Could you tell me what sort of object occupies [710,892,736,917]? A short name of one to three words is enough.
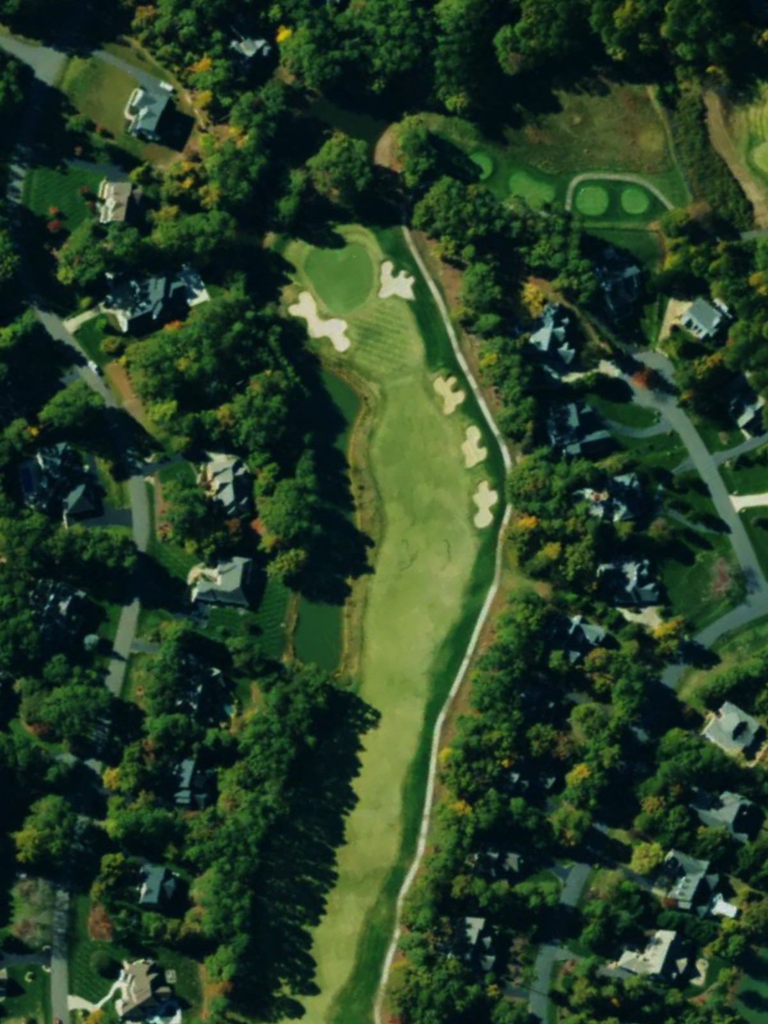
building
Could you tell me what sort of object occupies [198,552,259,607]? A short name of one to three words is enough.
house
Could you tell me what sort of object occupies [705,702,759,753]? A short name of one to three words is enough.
house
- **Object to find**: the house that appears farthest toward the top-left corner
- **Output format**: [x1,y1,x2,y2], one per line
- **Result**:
[135,88,173,141]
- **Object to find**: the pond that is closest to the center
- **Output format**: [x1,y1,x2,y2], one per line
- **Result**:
[295,366,360,671]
